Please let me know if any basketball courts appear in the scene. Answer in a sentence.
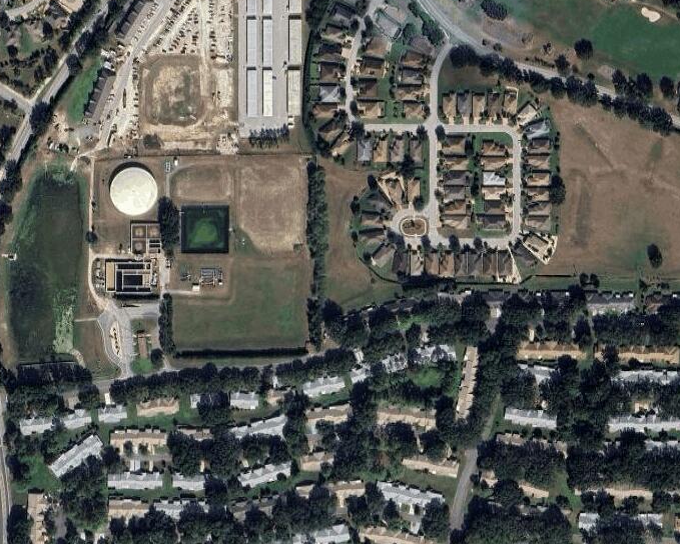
No, there isn't any basketball court down there.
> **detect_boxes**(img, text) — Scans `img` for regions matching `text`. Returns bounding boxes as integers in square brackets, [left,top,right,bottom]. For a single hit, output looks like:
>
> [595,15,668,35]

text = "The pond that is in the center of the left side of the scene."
[12,176,81,360]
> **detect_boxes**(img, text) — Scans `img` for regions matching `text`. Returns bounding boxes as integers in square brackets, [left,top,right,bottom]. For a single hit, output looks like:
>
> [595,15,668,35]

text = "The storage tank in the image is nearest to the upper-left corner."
[110,166,157,214]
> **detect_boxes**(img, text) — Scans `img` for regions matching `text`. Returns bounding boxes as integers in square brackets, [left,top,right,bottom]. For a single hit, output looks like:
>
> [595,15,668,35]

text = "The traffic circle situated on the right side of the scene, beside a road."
[395,211,432,241]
